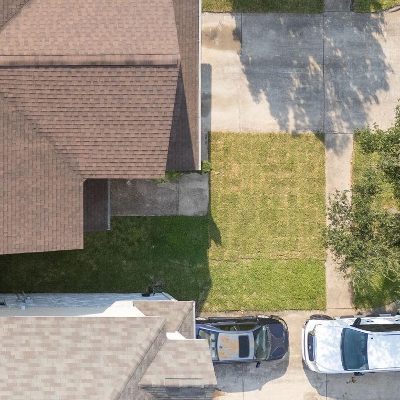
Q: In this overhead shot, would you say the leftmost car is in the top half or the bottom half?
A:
bottom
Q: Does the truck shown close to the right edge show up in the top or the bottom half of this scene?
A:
bottom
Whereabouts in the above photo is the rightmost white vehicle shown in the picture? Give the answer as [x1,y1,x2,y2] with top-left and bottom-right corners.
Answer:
[299,318,400,381]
